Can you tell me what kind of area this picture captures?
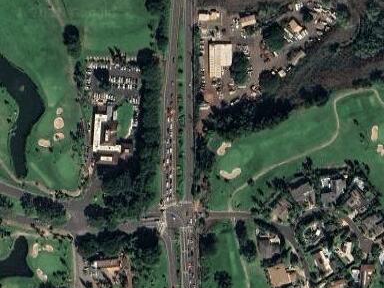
golf course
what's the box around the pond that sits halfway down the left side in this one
[0,55,44,179]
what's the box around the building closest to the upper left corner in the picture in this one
[93,105,118,151]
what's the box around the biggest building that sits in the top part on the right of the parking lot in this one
[208,43,233,78]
